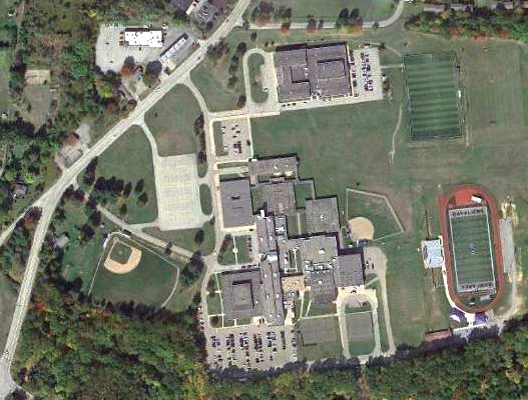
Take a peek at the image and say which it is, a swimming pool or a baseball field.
baseball field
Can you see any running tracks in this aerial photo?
Yes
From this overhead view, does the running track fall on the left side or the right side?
right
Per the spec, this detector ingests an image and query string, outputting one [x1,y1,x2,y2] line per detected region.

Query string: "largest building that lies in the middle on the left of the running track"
[220,157,363,325]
